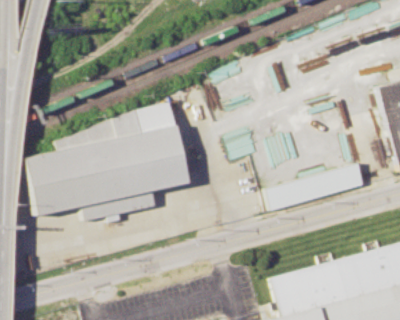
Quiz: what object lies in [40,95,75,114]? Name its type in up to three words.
rail car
